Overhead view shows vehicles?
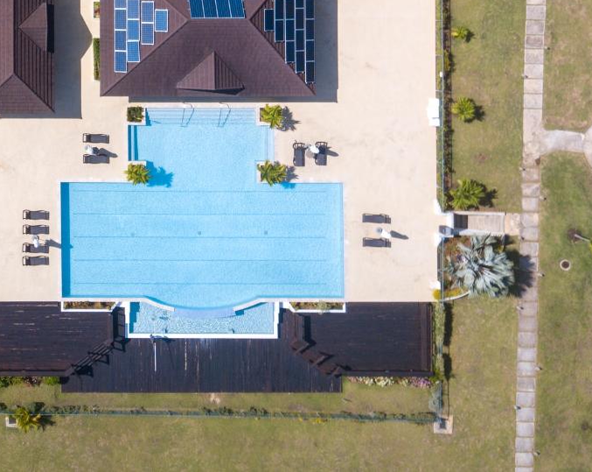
No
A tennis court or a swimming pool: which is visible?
swimming pool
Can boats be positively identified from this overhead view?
No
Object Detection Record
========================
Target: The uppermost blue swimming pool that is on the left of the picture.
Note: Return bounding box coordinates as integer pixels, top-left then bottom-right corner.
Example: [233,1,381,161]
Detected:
[58,106,345,316]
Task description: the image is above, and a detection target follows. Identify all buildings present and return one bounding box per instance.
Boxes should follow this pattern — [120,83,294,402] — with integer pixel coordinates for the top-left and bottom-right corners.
[100,0,316,96]
[0,0,55,114]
